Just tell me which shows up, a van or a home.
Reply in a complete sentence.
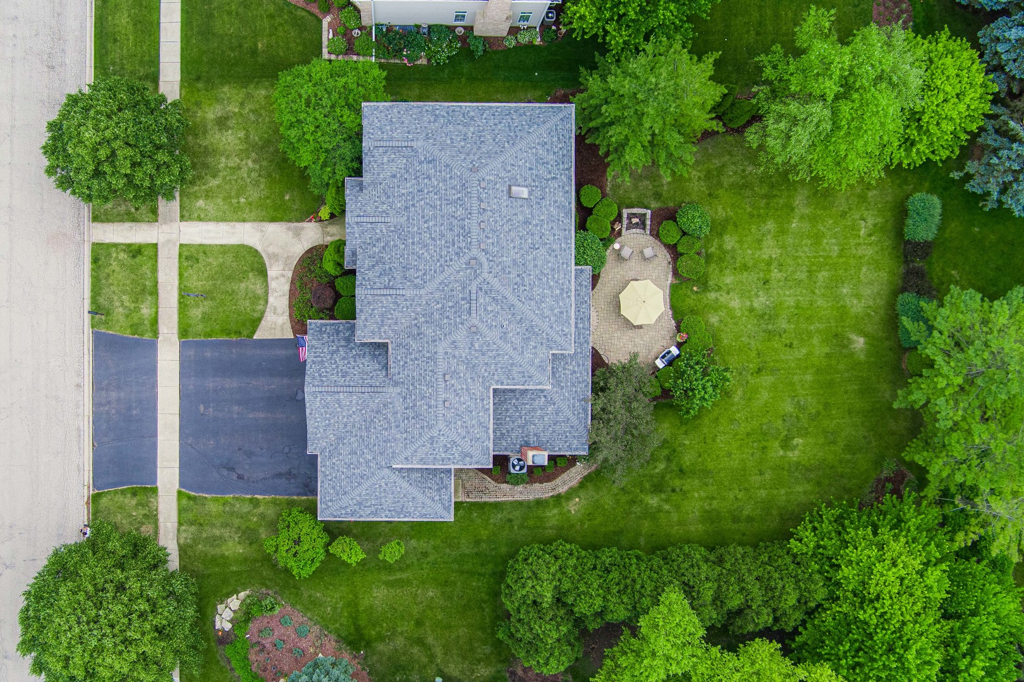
Looking from above, you can make out a home.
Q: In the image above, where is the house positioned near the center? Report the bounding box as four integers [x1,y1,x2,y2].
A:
[304,100,592,523]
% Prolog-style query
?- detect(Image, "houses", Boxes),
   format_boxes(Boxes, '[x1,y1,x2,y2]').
[304,100,592,523]
[351,0,557,58]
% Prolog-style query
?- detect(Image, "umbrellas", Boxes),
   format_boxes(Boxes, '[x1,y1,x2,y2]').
[619,279,664,325]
